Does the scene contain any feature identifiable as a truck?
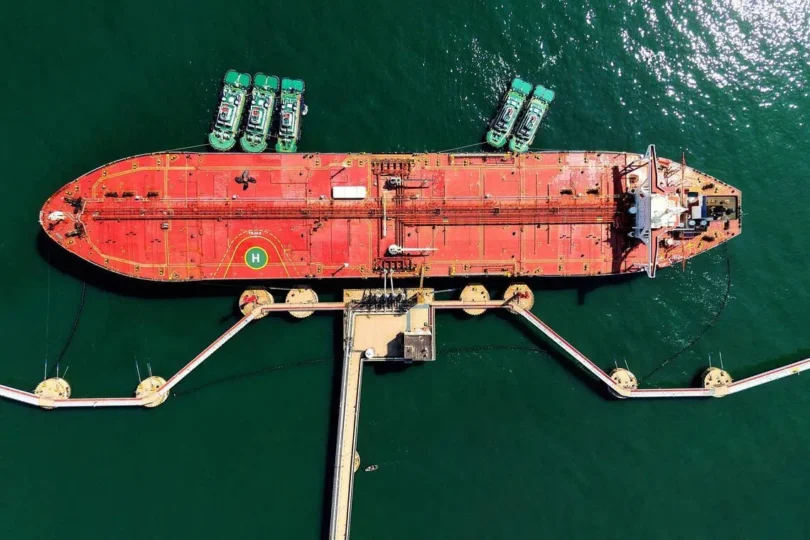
No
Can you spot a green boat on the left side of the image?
Yes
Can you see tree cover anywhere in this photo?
No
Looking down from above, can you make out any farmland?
No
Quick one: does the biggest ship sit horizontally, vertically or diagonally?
horizontally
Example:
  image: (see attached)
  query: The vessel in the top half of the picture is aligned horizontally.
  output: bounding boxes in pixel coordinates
[39,142,742,280]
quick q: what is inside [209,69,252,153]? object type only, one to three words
boat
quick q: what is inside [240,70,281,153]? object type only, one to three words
boat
